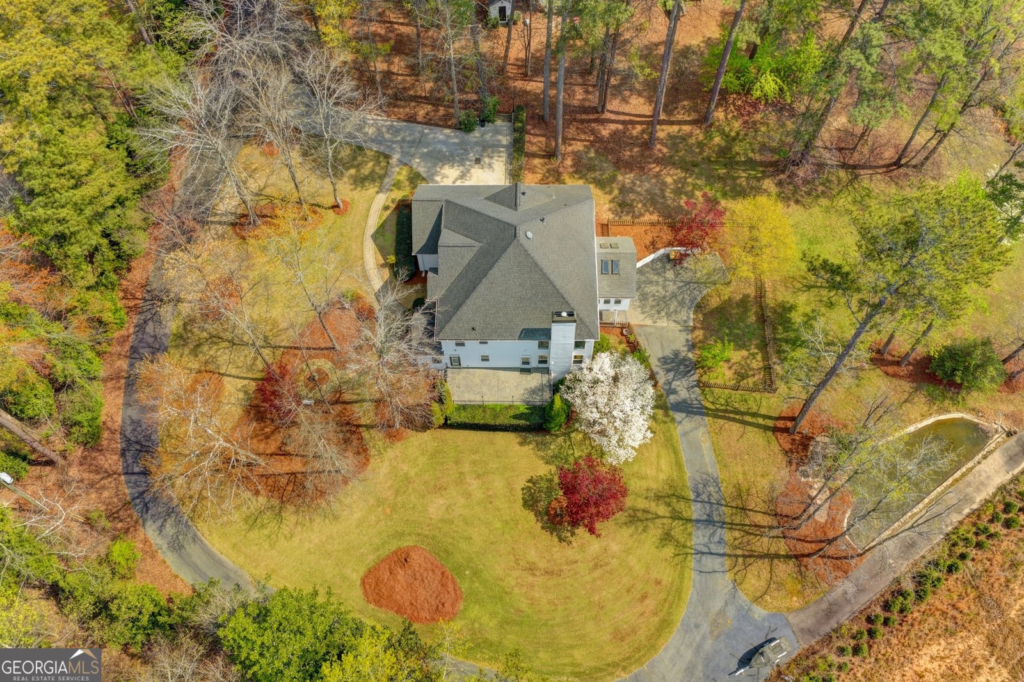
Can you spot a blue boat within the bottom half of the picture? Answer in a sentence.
No, there is no blue boat within the bottom half of the picture.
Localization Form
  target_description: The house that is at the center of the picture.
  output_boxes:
[397,179,638,383]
